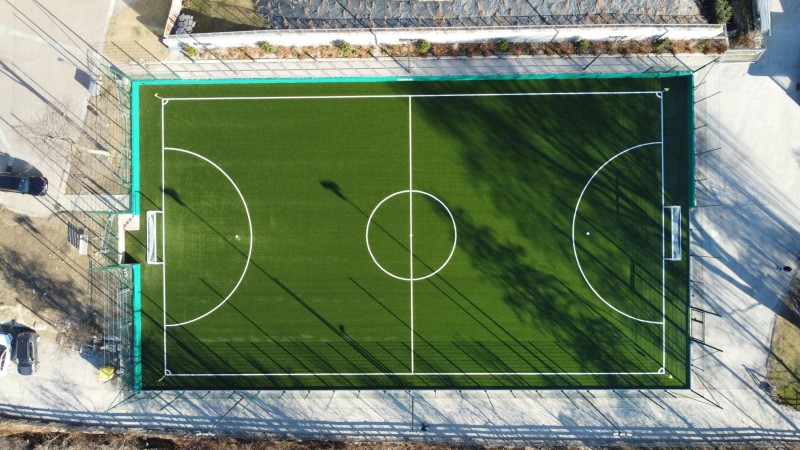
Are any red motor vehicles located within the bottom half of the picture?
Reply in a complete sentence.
No, no red motor vehicle appears within the bottom half of the picture.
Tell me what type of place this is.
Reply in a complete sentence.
This image shows a sports ground.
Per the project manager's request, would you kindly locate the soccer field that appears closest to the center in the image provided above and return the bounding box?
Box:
[127,78,690,390]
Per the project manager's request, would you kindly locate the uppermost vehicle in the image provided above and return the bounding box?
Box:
[0,174,45,198]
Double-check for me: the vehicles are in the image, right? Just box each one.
[0,174,45,198]
[0,332,11,378]
[12,330,40,375]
